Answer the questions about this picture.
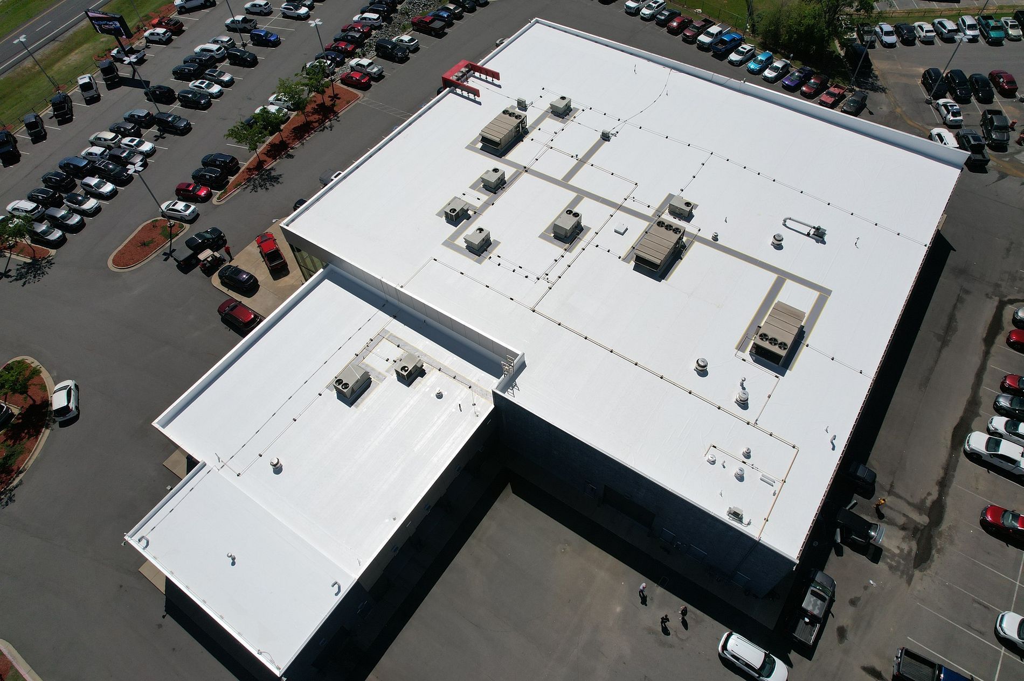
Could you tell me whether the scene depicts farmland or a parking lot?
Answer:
parking lot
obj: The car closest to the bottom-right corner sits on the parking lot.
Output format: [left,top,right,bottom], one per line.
[990,617,1024,657]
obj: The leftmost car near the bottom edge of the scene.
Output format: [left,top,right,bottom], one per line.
[712,627,795,681]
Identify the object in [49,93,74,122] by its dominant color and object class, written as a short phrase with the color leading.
black truck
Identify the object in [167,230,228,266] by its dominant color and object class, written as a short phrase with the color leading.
black truck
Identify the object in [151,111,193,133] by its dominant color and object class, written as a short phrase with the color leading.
black car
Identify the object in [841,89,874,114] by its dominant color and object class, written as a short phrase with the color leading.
black car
